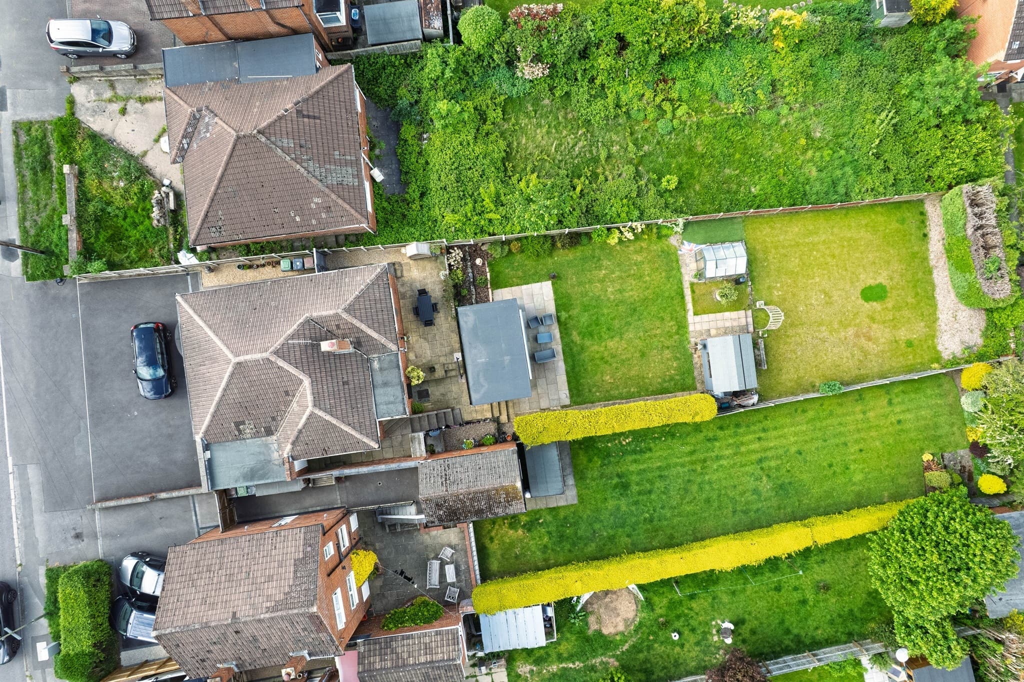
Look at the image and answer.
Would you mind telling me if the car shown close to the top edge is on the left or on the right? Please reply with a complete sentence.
You can find the car shown close to the top edge on the left side of the picture.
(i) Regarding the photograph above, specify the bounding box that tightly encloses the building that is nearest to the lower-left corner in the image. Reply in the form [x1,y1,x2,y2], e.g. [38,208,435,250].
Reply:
[151,504,373,682]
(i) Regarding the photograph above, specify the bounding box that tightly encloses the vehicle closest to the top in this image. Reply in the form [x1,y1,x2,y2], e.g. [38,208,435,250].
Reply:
[52,21,134,63]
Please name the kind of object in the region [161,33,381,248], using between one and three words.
house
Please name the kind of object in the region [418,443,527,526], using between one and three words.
building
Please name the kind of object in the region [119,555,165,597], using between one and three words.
car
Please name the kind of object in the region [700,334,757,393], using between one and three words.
shed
